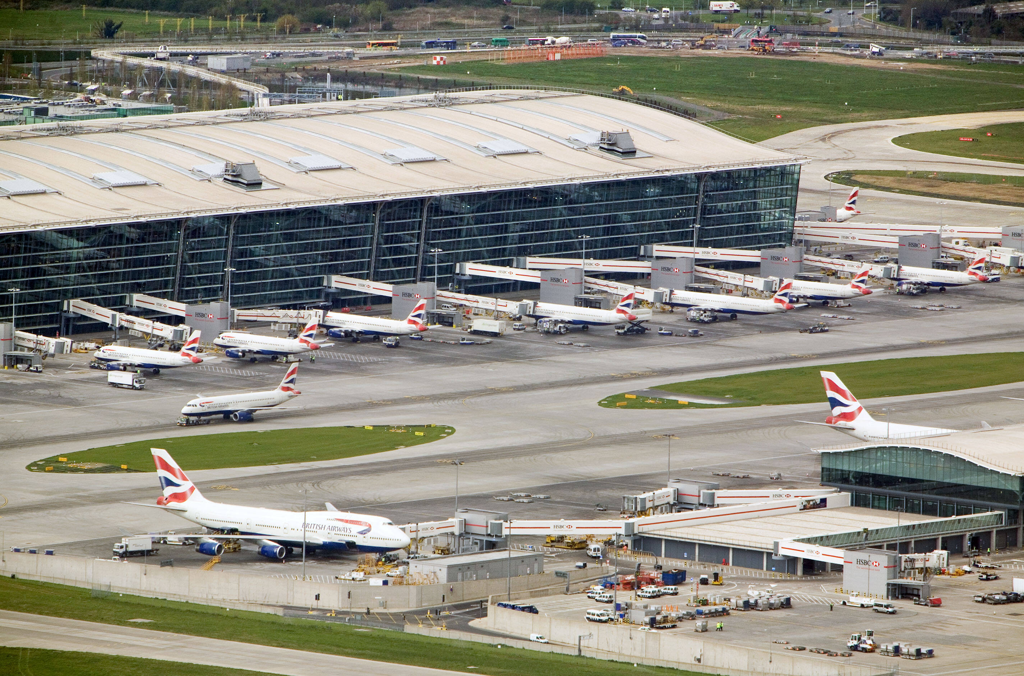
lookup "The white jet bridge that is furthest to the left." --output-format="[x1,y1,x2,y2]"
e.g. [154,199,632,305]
[10,332,73,364]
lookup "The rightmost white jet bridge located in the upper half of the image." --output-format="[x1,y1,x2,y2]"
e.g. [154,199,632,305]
[937,241,1024,281]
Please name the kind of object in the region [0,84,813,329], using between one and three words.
building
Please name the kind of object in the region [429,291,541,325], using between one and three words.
jet bridge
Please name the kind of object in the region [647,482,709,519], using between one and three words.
building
